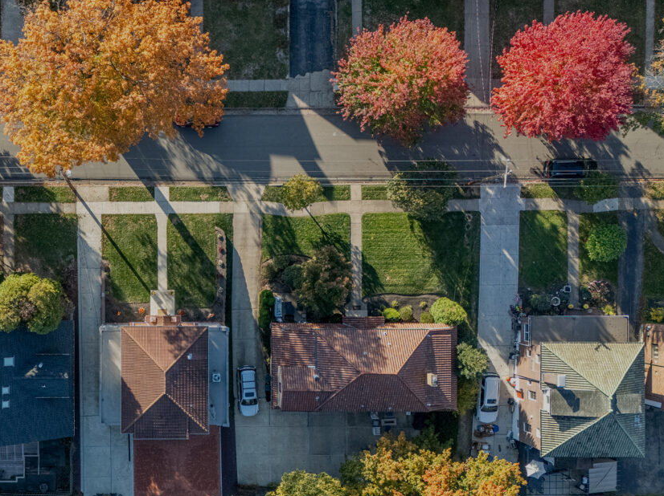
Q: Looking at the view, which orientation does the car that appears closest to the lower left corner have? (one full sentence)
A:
The car that appears closest to the lower left corner is oriented vertically.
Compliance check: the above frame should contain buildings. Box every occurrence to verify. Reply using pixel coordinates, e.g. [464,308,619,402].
[98,314,228,496]
[269,305,457,412]
[0,311,75,445]
[517,315,646,458]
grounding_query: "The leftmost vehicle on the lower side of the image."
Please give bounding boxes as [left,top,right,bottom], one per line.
[238,366,261,417]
